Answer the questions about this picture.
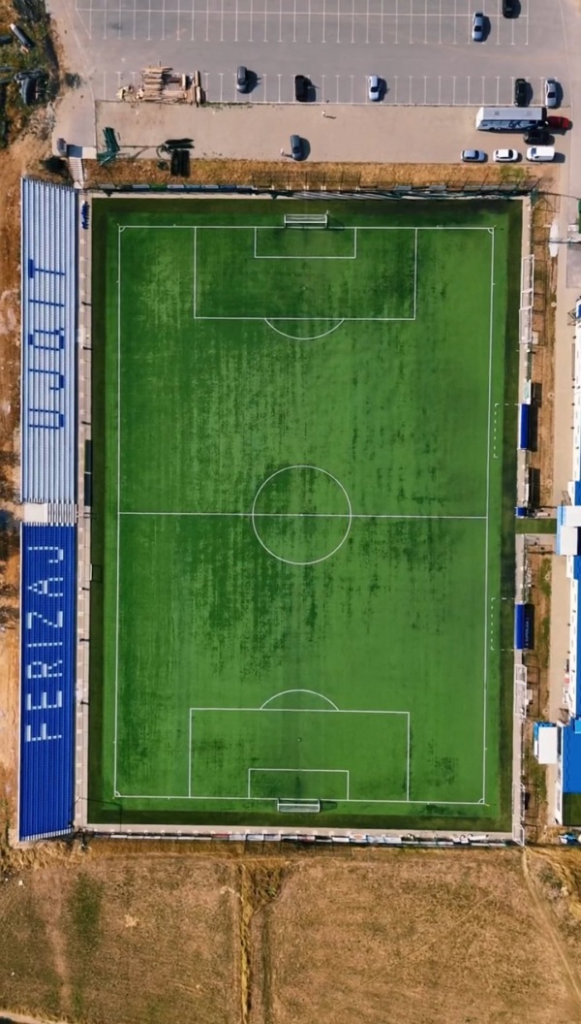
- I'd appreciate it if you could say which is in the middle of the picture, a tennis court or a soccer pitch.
soccer pitch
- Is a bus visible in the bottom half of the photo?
No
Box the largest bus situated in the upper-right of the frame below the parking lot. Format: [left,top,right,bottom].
[477,107,549,132]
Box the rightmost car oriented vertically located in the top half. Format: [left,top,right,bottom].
[545,80,558,107]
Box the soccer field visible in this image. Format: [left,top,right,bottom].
[87,198,523,833]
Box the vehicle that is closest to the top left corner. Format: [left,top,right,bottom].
[236,65,249,93]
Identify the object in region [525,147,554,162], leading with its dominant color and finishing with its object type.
white vehicle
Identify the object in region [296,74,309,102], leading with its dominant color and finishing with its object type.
black vehicle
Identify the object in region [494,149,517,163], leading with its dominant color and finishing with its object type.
white car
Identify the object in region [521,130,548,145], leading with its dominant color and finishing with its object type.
black car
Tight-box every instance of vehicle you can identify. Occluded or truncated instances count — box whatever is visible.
[516,78,529,106]
[502,0,515,19]
[461,150,484,163]
[521,130,548,145]
[545,80,558,107]
[494,149,517,163]
[472,13,484,41]
[236,65,249,93]
[525,147,554,162]
[369,76,381,101]
[477,107,549,132]
[292,135,303,160]
[296,74,309,102]
[545,116,572,131]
